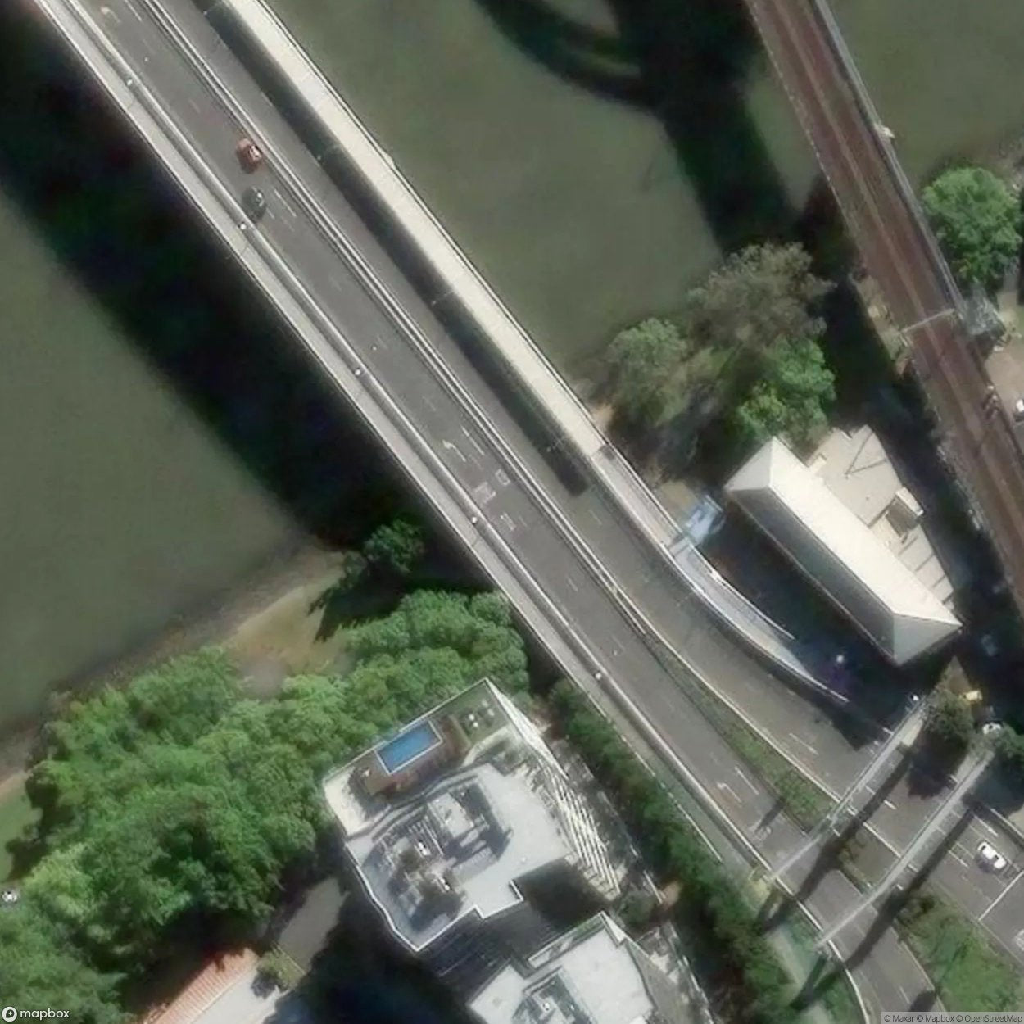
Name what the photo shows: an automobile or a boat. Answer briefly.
automobile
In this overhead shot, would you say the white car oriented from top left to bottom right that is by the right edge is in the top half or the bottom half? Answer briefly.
bottom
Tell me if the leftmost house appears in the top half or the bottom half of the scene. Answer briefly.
bottom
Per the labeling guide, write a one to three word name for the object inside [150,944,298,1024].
house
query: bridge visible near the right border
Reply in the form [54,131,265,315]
[745,0,1024,609]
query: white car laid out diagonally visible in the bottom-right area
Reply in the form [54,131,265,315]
[979,842,1007,869]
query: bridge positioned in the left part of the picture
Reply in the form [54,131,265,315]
[34,0,680,649]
